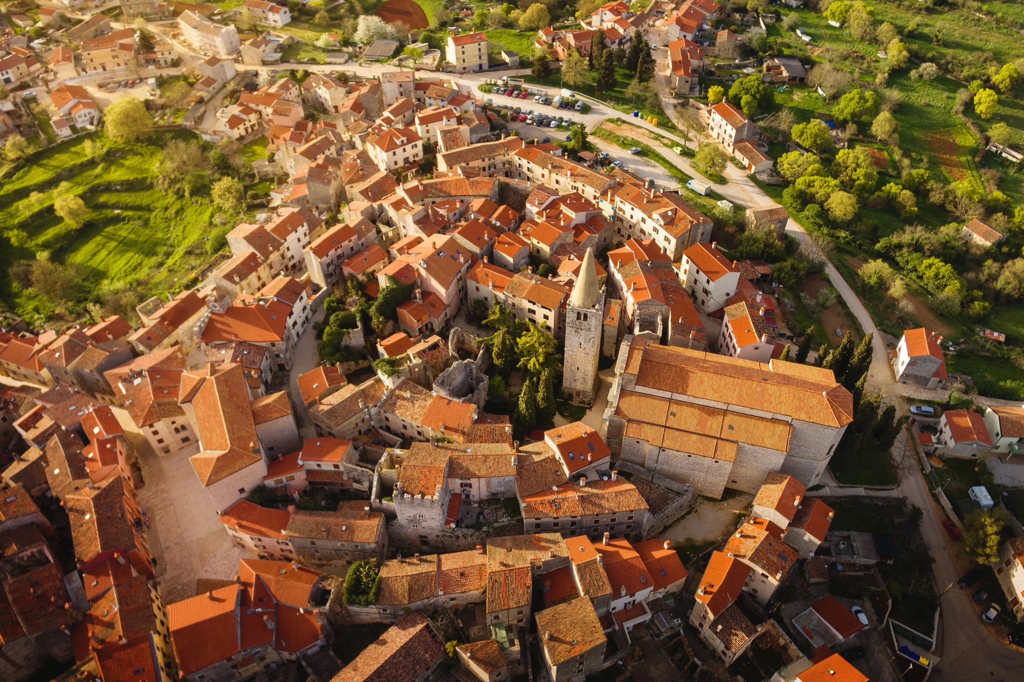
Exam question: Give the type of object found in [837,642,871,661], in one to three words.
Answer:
car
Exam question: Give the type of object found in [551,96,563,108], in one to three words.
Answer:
vehicle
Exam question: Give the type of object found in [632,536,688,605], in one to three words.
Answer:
house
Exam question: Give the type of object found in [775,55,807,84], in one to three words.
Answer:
barn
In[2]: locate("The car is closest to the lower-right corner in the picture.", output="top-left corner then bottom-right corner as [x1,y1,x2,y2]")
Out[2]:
[1000,627,1024,649]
